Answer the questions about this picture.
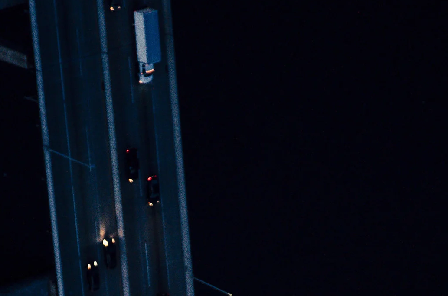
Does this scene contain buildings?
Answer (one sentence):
No, no building is visible in the scene.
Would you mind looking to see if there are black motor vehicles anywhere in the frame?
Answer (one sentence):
Yes, the photo shows a black motor vehicle.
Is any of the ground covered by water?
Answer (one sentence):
Yes, some water is visible.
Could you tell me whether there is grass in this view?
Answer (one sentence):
No, there is no grass in the image.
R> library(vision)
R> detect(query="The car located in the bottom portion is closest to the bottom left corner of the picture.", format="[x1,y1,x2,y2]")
[85,262,100,293]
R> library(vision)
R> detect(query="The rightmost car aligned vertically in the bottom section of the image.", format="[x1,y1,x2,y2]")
[145,174,160,206]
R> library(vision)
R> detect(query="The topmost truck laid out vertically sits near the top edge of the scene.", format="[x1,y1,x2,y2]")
[131,6,161,82]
